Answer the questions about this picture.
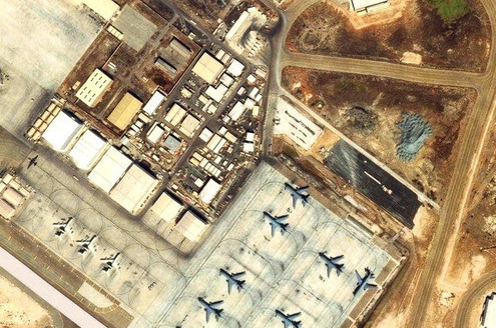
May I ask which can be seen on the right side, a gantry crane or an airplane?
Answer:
airplane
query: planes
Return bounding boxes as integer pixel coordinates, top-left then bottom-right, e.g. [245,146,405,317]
[264,213,289,238]
[319,254,344,279]
[51,220,74,246]
[74,237,97,264]
[285,184,310,208]
[221,270,246,295]
[353,268,377,295]
[98,254,121,281]
[26,154,38,168]
[275,311,301,328]
[198,300,224,324]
